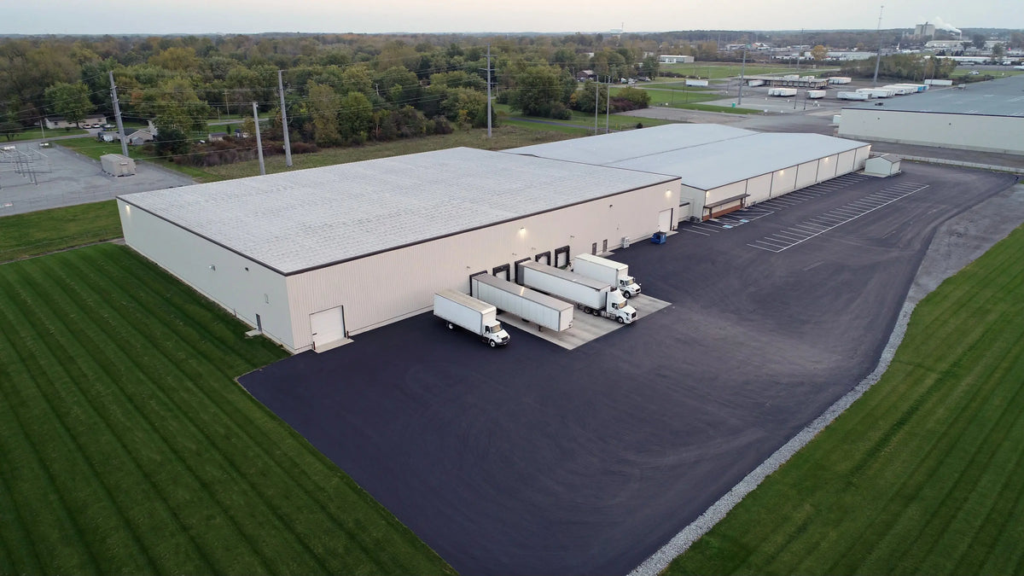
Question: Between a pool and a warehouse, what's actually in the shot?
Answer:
warehouse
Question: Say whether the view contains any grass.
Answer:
Yes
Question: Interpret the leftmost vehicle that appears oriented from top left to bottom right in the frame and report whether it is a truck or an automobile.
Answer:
truck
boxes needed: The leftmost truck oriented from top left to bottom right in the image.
[435,289,514,350]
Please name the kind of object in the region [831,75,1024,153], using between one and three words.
building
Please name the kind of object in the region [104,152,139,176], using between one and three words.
building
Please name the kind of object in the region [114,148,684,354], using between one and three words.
warehouse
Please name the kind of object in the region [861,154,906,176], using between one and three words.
shed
